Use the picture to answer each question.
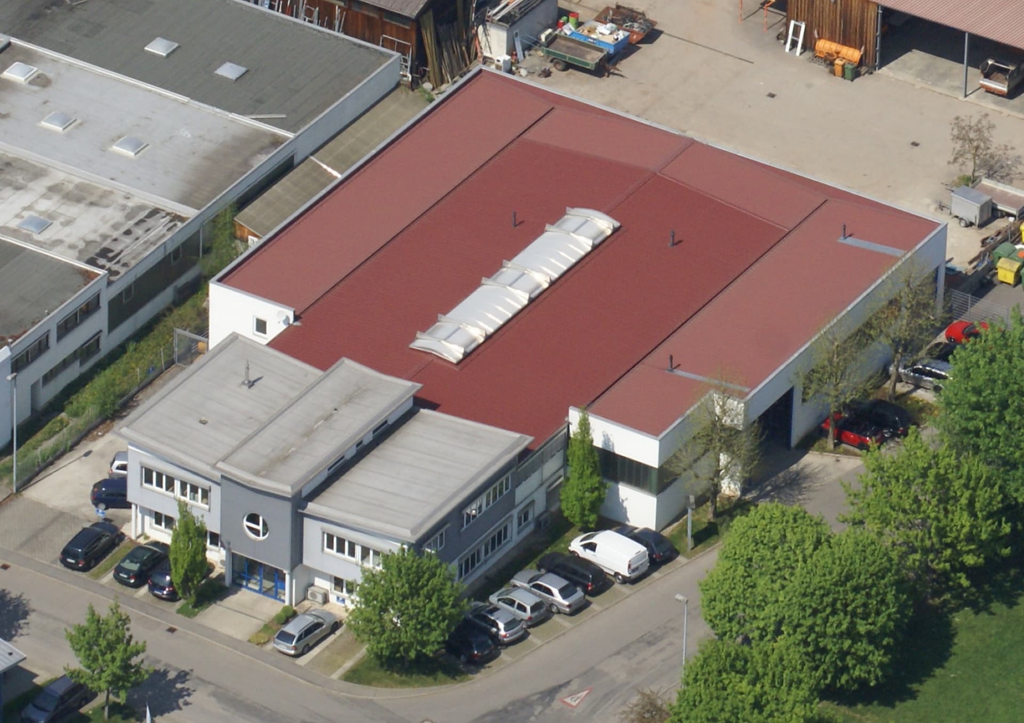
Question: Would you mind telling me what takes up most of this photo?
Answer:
buildings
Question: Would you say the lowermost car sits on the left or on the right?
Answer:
left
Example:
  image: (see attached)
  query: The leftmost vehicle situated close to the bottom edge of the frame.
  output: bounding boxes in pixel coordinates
[22,678,88,723]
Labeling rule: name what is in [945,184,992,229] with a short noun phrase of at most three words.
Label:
trailer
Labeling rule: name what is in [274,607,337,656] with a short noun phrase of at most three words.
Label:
car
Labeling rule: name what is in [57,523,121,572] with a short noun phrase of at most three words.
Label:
car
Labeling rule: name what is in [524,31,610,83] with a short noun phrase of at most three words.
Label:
trailer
